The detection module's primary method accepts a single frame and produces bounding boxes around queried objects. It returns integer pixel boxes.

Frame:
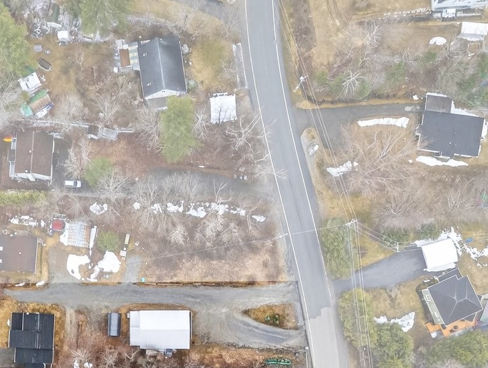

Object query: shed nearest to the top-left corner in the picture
[18,72,41,95]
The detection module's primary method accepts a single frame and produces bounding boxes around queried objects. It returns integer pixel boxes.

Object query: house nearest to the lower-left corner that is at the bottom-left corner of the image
[8,312,54,368]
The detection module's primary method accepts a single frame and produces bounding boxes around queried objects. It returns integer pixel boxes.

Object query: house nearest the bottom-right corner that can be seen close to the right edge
[421,268,482,327]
